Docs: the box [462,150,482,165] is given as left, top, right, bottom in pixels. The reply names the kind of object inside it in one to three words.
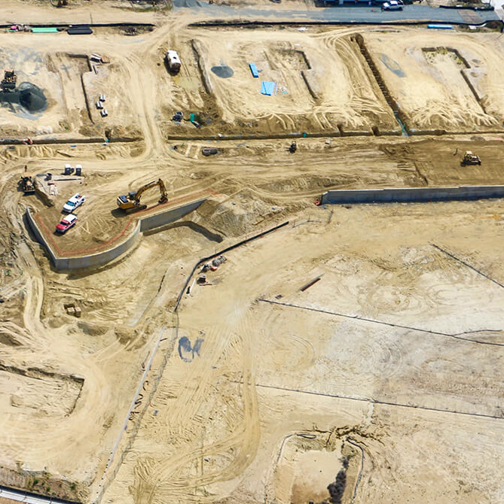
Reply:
work vehicle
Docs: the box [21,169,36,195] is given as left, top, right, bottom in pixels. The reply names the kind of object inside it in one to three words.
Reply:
work vehicle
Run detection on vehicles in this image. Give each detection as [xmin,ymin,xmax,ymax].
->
[21,169,36,195]
[381,1,402,10]
[118,176,165,216]
[54,213,78,231]
[393,0,414,5]
[62,196,85,211]
[462,150,482,165]
[3,67,14,89]
[288,139,298,151]
[165,51,182,71]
